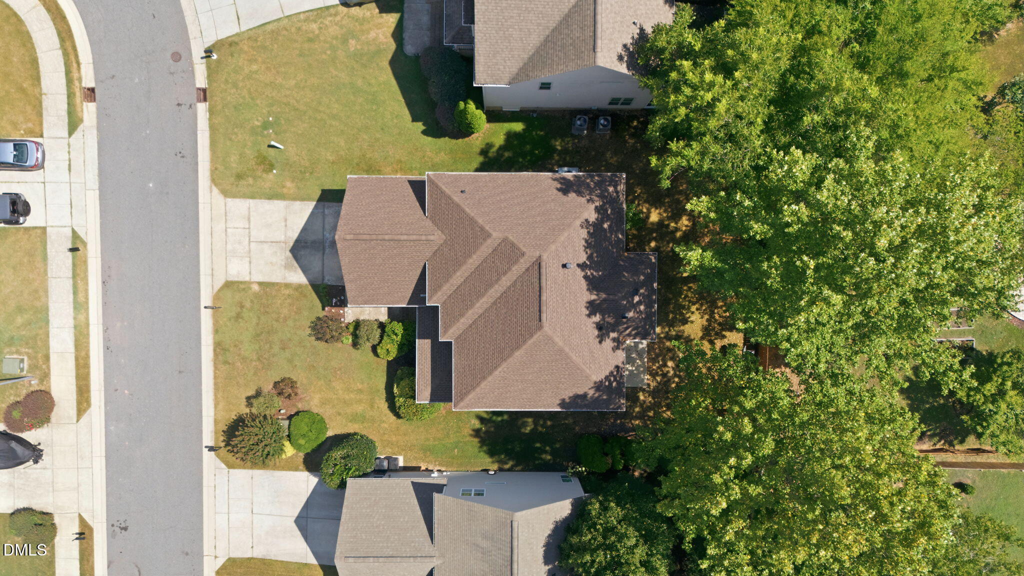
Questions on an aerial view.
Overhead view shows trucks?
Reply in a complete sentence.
No, I can see no truck in this picture.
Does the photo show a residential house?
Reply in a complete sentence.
Yes, a residential house is visible in the scene.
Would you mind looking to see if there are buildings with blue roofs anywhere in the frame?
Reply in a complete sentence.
No, this view has no building with a blue roof in it.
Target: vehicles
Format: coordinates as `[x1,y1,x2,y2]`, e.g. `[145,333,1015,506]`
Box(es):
[0,194,30,224]
[0,140,45,171]
[348,0,372,6]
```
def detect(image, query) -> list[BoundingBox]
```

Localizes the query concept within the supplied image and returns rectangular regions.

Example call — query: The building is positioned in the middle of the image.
[335,171,658,412]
